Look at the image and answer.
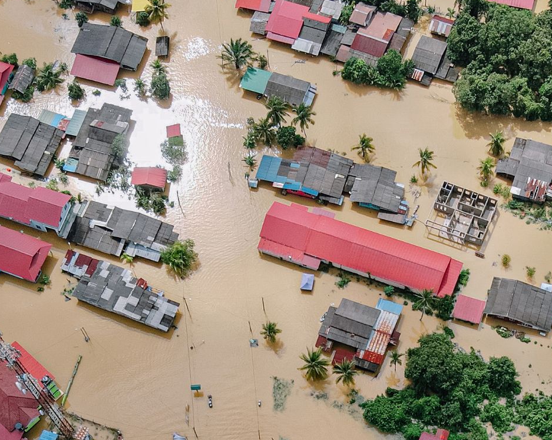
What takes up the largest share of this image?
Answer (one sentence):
The bulk of the photo consists of water.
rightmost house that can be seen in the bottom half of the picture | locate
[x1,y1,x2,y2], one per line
[484,277,552,335]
